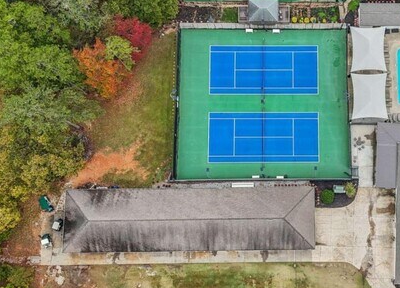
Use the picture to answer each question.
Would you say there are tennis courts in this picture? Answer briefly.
Yes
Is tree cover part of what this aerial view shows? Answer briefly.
Yes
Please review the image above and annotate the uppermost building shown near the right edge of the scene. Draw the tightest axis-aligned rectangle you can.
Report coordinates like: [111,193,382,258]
[359,3,400,30]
